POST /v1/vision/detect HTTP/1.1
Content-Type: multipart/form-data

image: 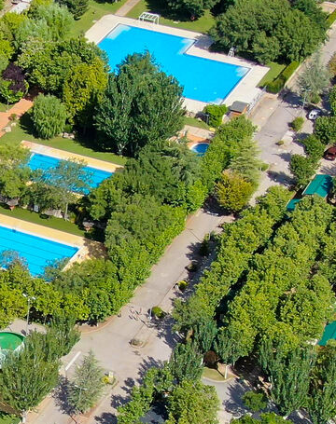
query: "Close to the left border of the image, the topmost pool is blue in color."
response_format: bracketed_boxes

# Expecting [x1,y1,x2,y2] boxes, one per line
[4,151,114,197]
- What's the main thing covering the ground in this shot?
trees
